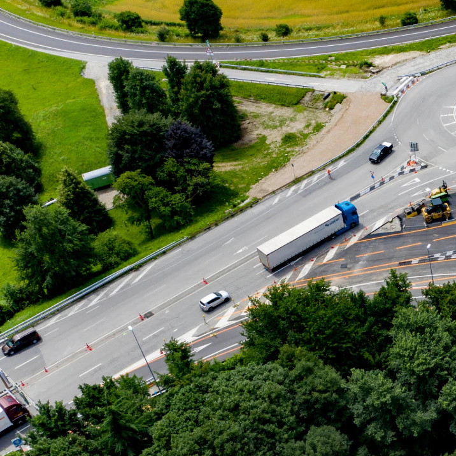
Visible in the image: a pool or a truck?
truck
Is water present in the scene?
No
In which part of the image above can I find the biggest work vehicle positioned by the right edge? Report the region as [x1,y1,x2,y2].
[420,202,454,226]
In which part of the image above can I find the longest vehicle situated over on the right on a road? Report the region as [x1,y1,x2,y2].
[258,208,357,269]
